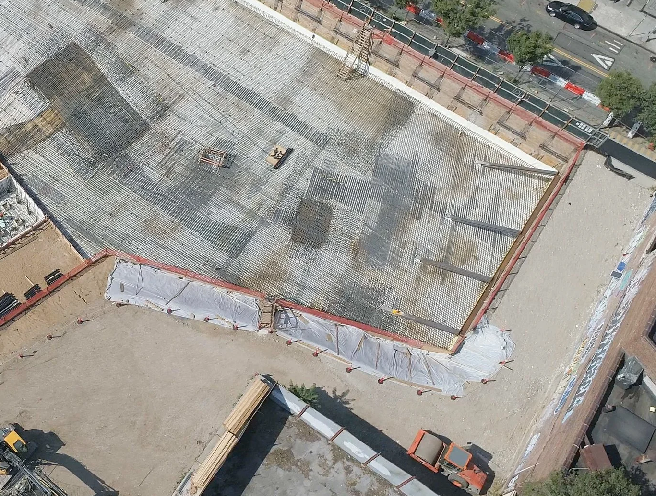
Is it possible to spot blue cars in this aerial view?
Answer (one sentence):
No, there is no blue car in the image.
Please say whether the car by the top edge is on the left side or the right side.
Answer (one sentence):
The car by the top edge sits on the right side.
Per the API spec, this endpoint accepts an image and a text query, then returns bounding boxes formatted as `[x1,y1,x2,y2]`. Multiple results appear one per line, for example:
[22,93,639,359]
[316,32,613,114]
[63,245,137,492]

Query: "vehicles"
[0,420,67,496]
[549,6,597,36]
[415,436,493,496]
